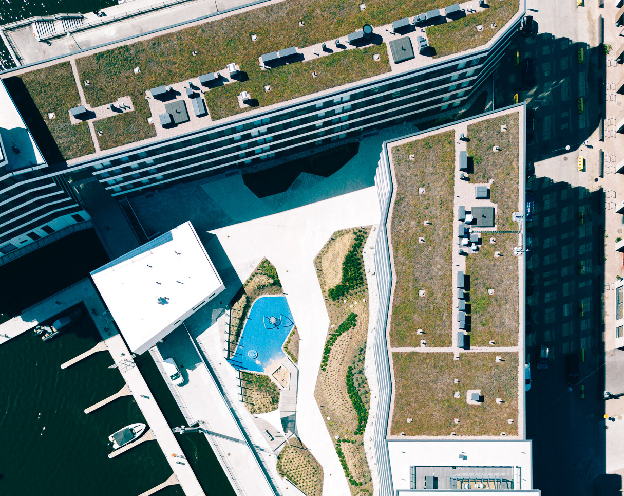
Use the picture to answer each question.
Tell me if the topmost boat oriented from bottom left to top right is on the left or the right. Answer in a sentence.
It is on the left.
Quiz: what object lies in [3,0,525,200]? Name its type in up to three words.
building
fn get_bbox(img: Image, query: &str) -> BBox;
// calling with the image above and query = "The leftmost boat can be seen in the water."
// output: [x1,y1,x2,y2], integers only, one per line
[35,303,80,344]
